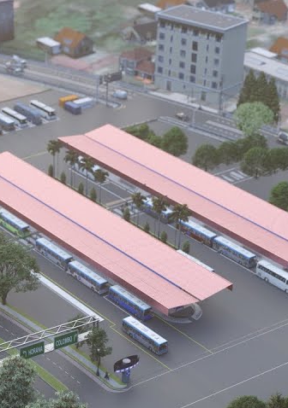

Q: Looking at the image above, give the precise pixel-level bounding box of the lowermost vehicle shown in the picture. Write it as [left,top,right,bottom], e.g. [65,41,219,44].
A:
[123,316,167,356]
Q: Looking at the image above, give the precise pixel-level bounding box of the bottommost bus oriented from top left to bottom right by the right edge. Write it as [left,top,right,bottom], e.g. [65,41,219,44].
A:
[256,262,288,295]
